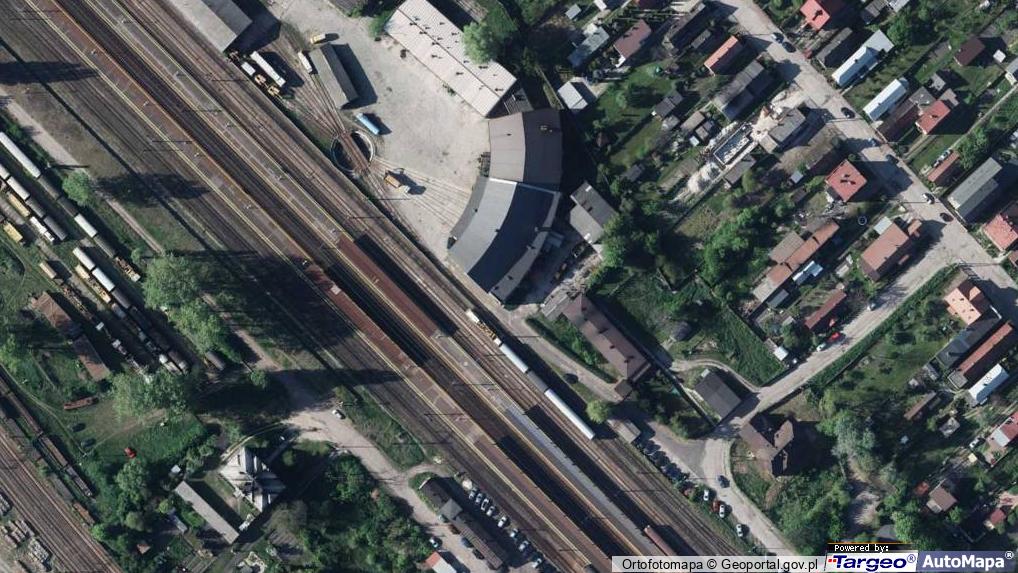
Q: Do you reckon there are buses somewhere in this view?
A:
Yes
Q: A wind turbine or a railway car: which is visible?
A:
railway car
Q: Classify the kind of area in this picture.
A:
residential area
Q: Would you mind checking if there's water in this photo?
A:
No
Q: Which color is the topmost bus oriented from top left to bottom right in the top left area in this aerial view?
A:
white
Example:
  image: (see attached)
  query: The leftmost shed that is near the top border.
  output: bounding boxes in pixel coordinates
[167,0,253,53]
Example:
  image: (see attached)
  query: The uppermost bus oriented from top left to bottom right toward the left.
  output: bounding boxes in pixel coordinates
[250,51,287,89]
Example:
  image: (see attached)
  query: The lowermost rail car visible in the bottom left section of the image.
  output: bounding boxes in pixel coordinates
[71,501,96,526]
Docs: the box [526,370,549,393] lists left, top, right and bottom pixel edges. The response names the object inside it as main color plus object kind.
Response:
gray rail car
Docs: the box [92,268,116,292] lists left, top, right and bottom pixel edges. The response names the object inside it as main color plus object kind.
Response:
white rail car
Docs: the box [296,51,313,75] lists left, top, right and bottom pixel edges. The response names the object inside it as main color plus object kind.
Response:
white rail car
